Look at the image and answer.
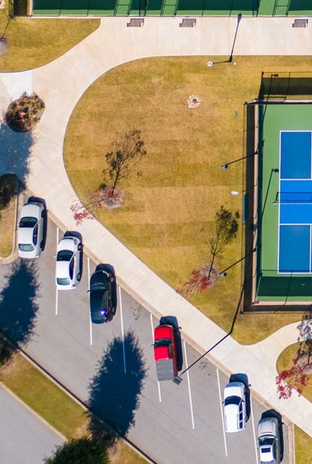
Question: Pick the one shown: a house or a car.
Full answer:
I can see a car in this picture.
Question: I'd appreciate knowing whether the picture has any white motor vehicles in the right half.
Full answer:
Yes, a white motor vehicle can be seen in the right half.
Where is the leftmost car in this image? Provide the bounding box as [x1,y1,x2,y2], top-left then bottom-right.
[19,203,49,258]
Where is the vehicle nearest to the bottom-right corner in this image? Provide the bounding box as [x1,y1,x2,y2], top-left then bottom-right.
[255,416,282,464]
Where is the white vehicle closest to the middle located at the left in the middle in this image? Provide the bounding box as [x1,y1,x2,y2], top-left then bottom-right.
[53,237,84,290]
